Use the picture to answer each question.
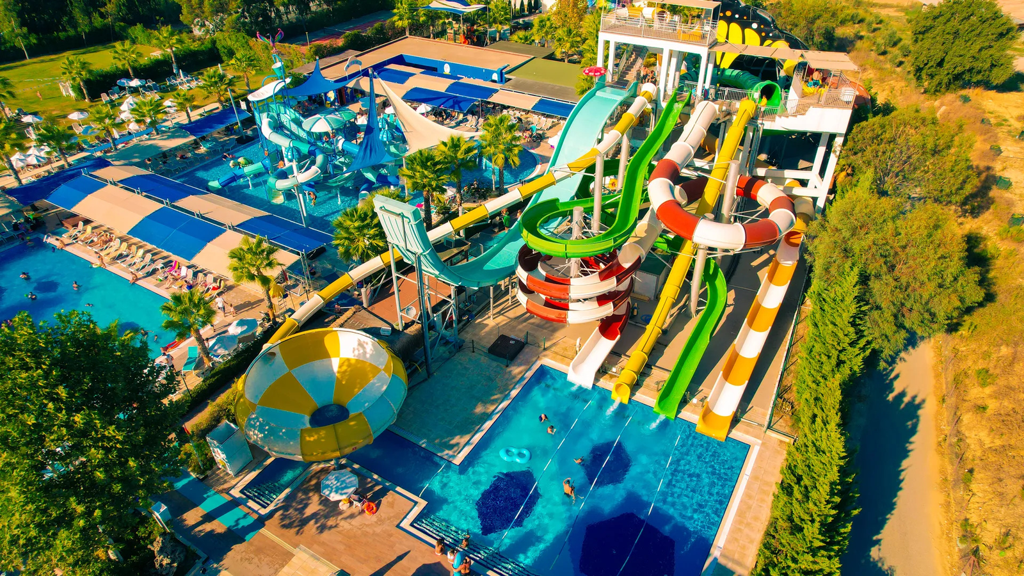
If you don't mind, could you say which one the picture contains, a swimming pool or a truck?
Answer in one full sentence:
The image shows a swimming pool.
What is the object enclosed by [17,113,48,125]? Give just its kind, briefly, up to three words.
umbrella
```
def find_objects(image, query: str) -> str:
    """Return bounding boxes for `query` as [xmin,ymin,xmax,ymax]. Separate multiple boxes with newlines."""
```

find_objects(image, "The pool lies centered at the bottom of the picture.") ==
[241,363,750,576]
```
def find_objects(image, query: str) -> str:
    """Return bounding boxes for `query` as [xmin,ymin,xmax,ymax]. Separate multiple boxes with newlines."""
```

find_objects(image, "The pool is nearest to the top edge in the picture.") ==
[181,118,543,226]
